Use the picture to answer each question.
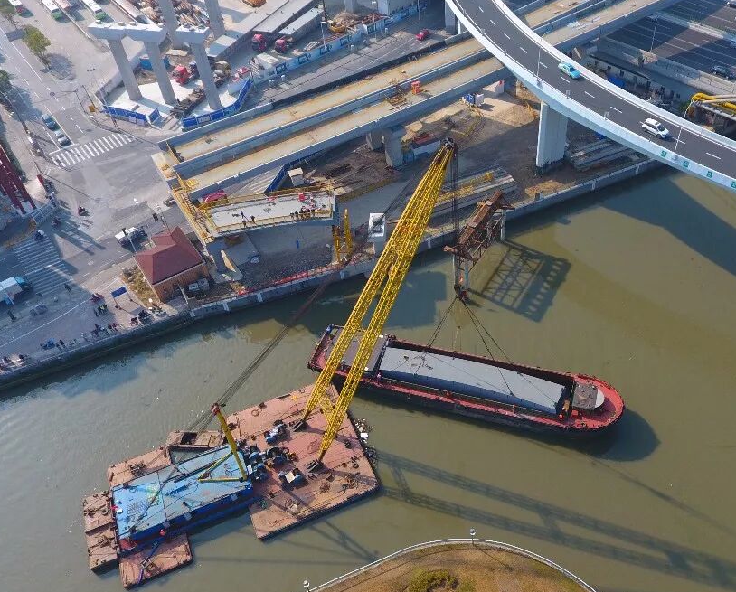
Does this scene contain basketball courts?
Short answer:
No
